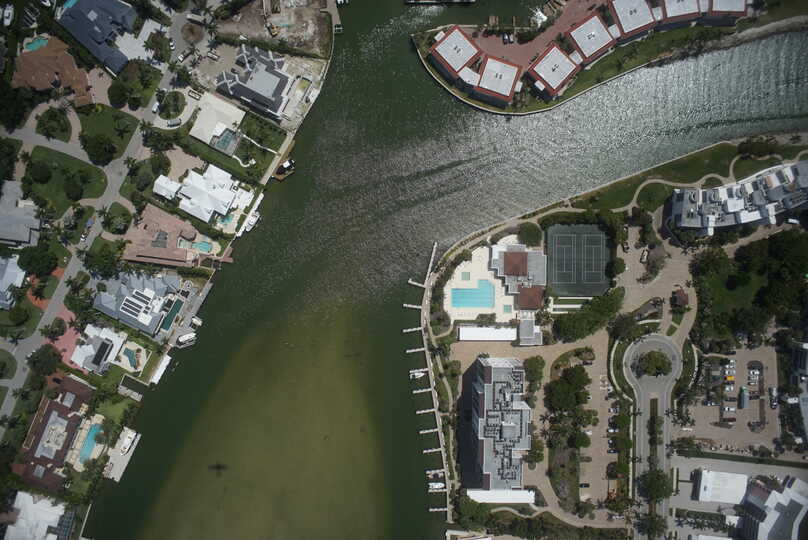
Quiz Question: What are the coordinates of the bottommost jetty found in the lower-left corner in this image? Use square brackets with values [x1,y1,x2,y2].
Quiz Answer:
[102,426,142,482]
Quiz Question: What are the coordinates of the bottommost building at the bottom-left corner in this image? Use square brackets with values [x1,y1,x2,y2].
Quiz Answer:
[6,490,66,540]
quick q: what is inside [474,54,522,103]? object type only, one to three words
building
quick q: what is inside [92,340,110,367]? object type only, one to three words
solar panel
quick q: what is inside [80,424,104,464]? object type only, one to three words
swimming pool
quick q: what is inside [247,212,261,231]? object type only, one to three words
boat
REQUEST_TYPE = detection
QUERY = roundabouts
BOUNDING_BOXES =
[624,334,683,392]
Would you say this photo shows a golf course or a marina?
marina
